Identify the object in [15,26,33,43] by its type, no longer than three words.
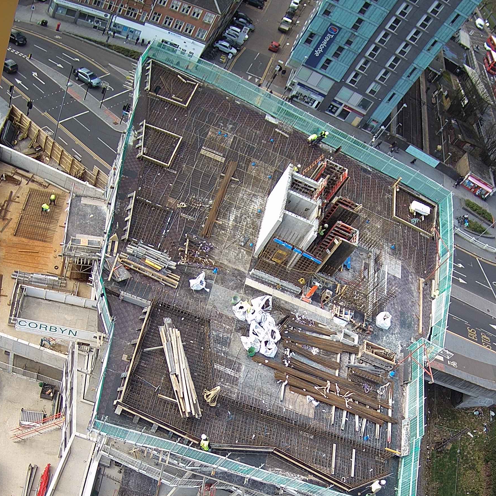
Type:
car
